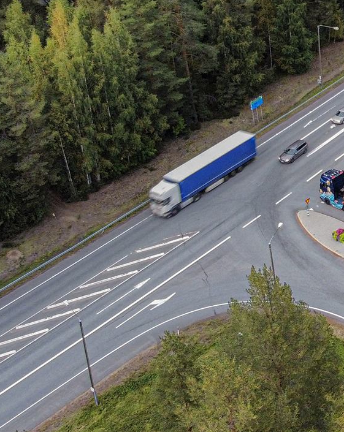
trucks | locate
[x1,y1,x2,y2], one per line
[319,167,344,209]
[152,131,258,218]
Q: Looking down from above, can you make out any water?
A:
No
